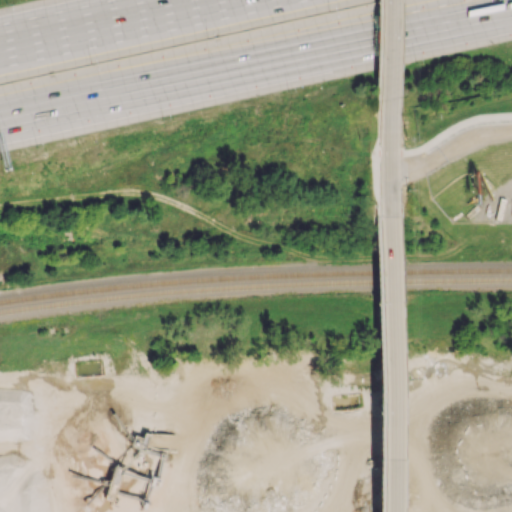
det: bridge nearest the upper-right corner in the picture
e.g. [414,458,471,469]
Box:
[378,0,404,99]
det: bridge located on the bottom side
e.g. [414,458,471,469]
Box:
[378,218,408,512]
